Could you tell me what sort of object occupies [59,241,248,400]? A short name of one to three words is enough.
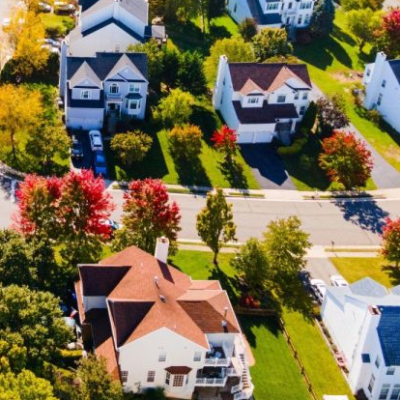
house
